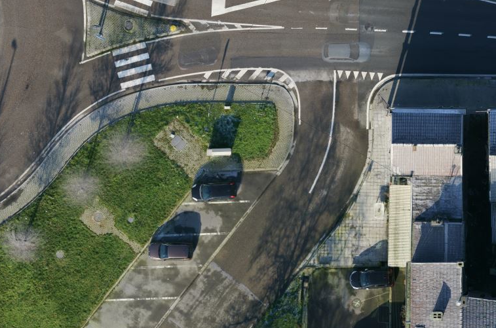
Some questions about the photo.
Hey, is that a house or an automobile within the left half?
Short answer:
automobile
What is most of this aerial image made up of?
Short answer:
paved ground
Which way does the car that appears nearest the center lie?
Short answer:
from side to side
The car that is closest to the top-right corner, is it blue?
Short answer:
No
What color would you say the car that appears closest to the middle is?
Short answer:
black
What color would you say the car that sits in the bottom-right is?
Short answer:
black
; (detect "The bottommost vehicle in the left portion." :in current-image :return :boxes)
[149,240,193,262]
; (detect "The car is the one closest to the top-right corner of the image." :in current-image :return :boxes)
[322,40,371,64]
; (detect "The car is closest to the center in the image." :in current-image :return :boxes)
[191,180,237,203]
